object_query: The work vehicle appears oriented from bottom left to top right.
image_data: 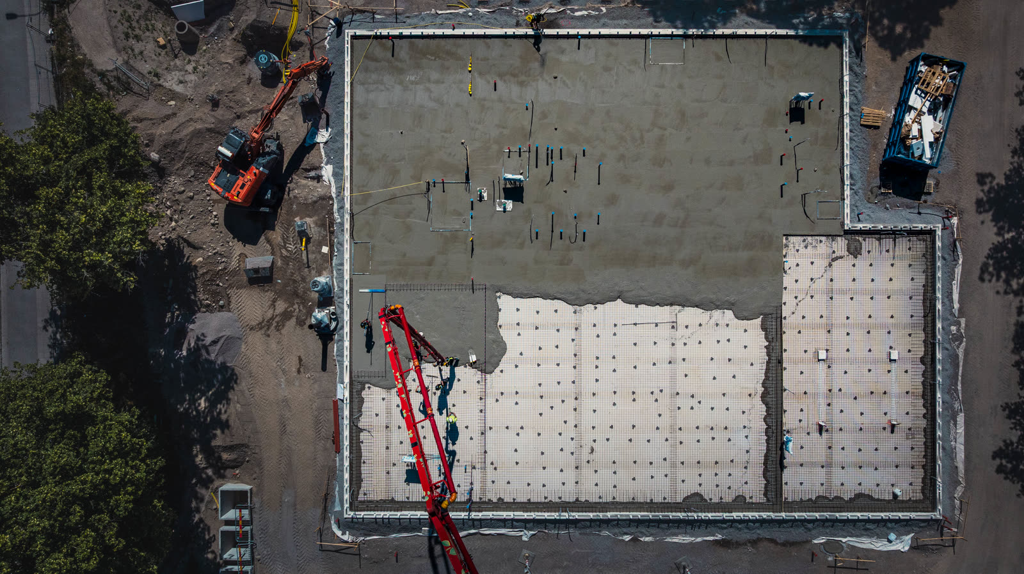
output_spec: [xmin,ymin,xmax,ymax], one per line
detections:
[213,54,343,209]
